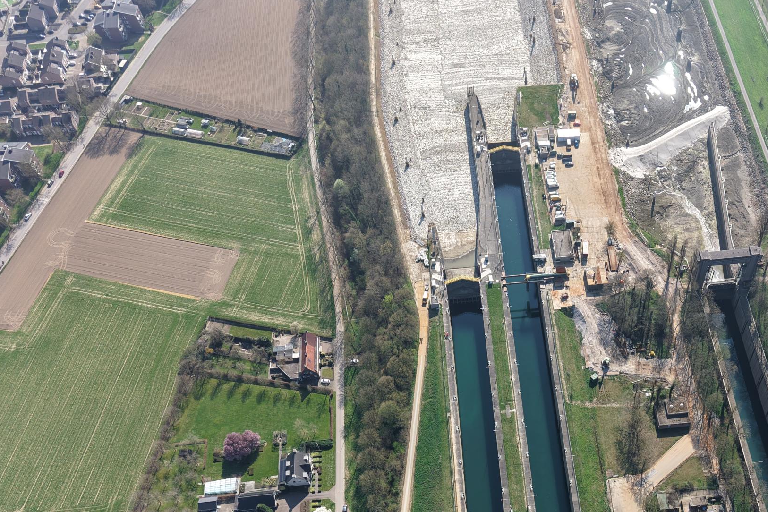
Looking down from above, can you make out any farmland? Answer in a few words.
Yes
